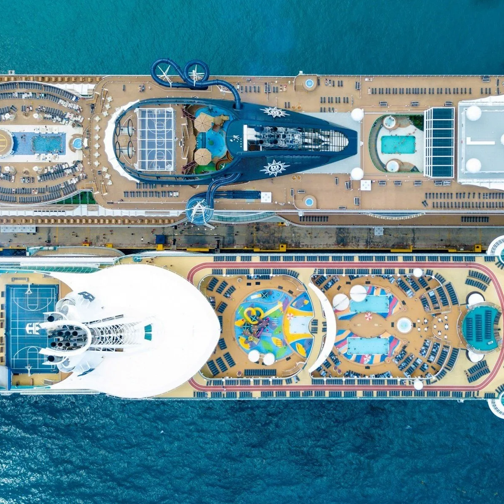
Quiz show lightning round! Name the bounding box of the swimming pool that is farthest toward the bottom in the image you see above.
[334,330,403,365]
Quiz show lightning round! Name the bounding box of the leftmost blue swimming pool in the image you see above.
[32,135,63,153]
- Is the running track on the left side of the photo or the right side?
right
